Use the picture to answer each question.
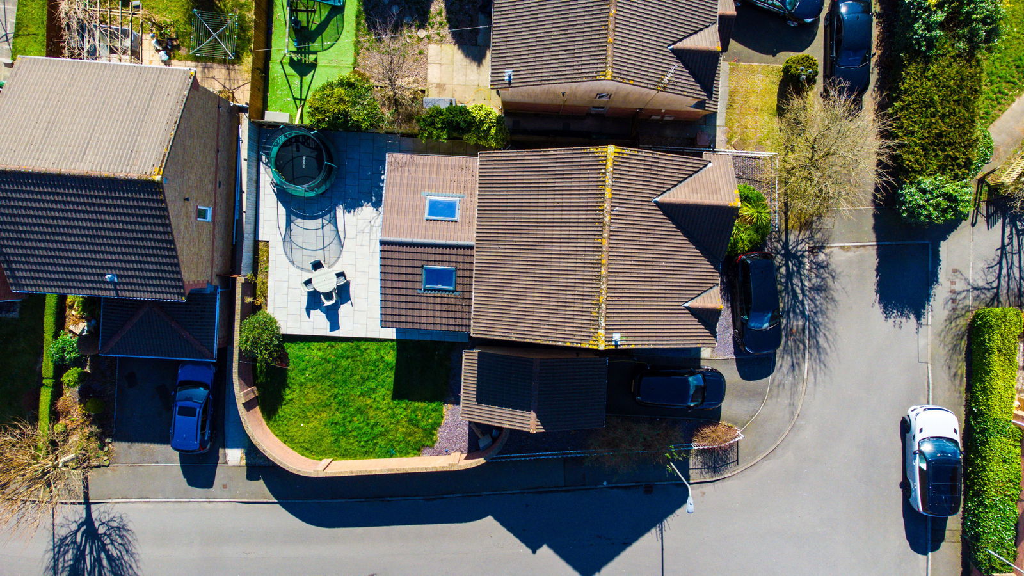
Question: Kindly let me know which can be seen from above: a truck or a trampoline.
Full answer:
It is a trampoline that can be seen here.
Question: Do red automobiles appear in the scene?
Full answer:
No, the picture doesn't show any red automobile.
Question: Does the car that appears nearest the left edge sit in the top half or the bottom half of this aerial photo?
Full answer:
Seen from above, the car that appears nearest the left edge lies in the bottom half of the view.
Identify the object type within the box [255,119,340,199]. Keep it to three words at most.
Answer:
trampoline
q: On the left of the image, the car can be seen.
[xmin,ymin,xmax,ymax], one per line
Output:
[170,362,224,453]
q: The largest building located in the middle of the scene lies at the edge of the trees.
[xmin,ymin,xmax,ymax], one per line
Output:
[469,145,740,350]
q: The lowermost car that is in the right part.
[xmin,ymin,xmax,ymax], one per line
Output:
[899,403,965,513]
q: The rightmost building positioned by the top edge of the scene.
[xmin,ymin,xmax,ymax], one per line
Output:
[487,0,737,137]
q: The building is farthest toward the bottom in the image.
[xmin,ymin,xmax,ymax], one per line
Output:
[458,347,610,432]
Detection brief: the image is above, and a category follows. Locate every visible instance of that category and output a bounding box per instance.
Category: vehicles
[732,253,786,353]
[170,362,224,453]
[631,365,726,417]
[899,403,965,513]
[823,0,878,97]
[735,0,821,25]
